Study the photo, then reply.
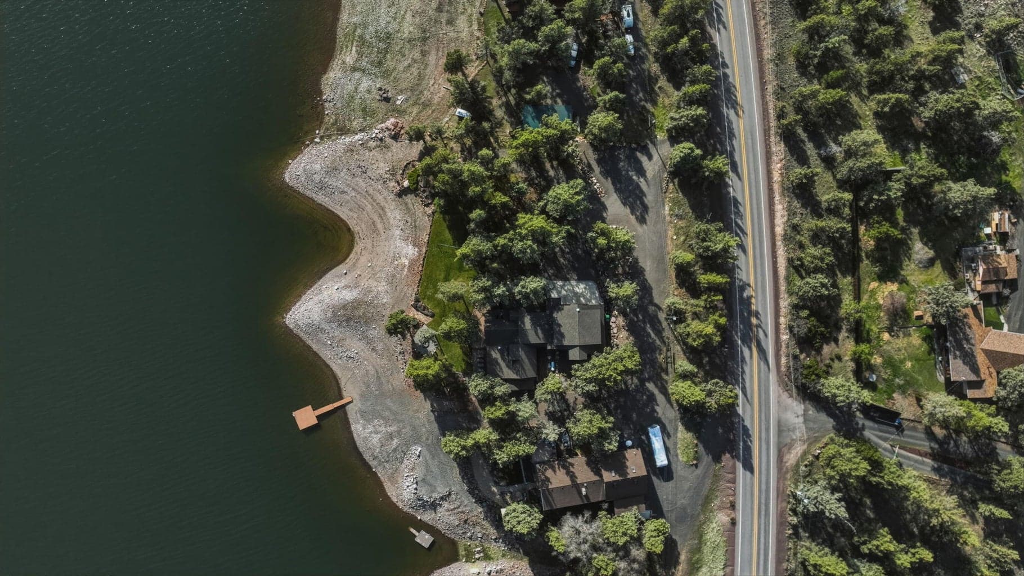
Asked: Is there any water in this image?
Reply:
Yes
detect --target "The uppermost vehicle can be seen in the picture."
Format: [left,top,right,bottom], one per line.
[621,2,634,29]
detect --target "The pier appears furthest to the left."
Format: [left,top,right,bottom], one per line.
[292,396,353,430]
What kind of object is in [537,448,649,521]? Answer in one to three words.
house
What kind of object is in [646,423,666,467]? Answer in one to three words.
camper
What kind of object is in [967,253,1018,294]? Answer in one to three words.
house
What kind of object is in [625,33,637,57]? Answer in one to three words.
vehicle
